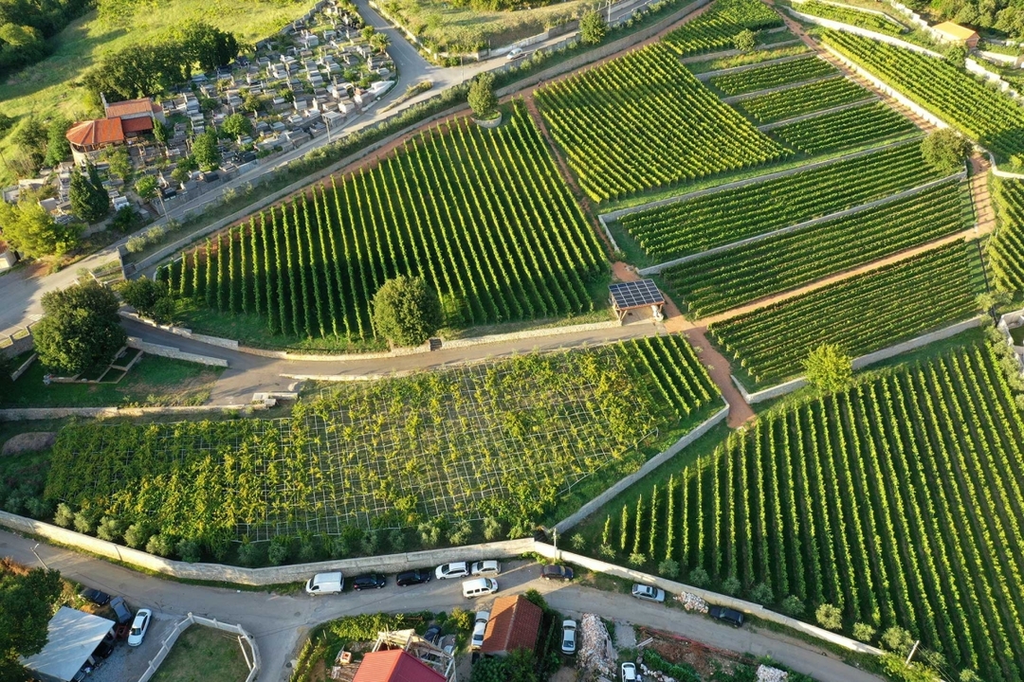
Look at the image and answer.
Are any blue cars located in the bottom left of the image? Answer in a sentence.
Yes, a blue car shows up in the bottom left of the image.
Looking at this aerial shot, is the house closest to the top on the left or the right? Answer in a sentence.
The house closest to the top is on the right side of the image.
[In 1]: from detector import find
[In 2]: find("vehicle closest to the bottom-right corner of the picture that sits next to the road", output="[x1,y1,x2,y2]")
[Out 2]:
[709,606,744,629]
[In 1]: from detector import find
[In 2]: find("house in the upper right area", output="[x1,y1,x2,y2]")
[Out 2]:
[930,19,974,54]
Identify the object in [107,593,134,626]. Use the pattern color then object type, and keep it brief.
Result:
blue car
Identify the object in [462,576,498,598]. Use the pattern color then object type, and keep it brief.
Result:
white vehicle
